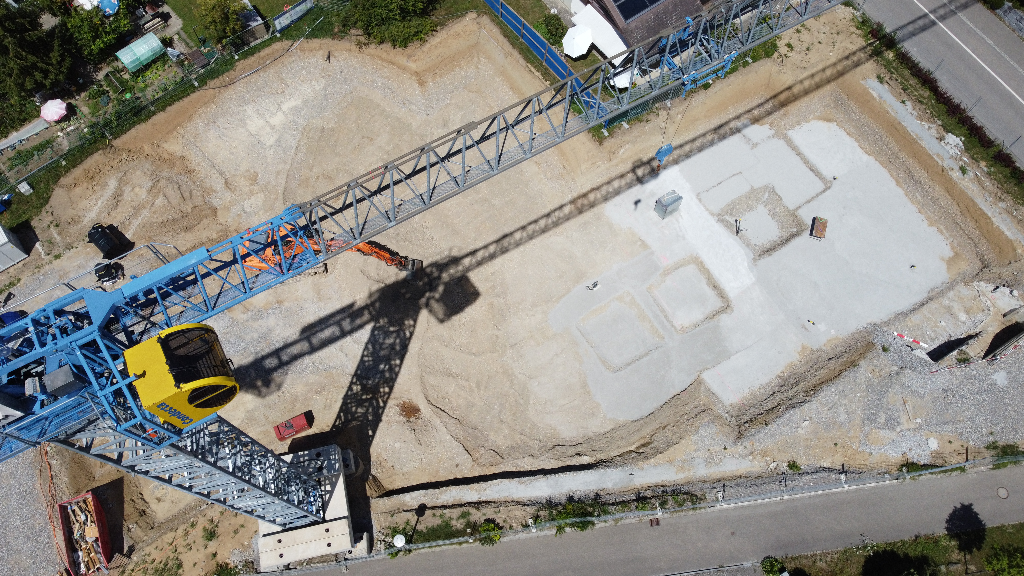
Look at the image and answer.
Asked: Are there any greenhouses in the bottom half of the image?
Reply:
No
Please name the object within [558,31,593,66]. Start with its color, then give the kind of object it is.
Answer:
white umbrella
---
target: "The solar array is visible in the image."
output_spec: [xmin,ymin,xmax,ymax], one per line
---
[616,0,670,23]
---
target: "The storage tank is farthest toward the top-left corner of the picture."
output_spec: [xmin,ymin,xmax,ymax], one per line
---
[89,218,133,263]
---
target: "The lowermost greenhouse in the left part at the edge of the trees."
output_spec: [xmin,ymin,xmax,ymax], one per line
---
[115,31,171,78]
